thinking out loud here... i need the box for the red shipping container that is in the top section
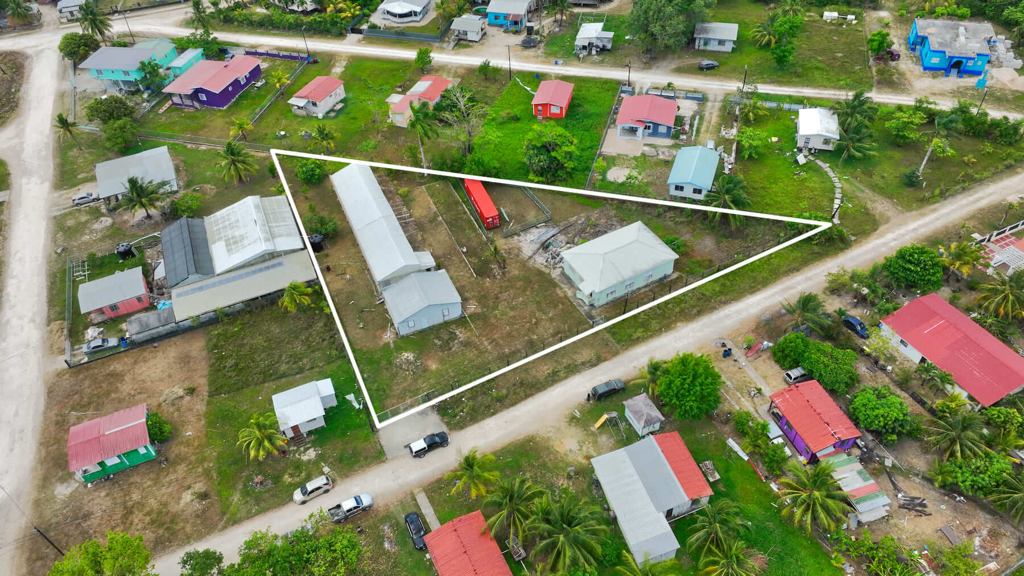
[463,173,500,230]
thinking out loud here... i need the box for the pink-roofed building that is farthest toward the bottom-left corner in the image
[65,403,156,480]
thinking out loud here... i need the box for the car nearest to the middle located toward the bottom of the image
[590,379,627,400]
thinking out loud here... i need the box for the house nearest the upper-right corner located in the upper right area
[906,17,997,86]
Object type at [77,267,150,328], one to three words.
house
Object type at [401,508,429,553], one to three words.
car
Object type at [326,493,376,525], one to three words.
truck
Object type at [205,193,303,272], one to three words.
building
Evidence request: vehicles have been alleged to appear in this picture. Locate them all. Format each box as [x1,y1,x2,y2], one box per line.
[400,431,452,459]
[401,508,429,553]
[590,379,627,400]
[782,363,818,386]
[697,59,720,70]
[836,315,874,340]
[82,337,121,355]
[326,493,376,525]
[292,474,334,505]
[887,47,903,61]
[70,192,100,207]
